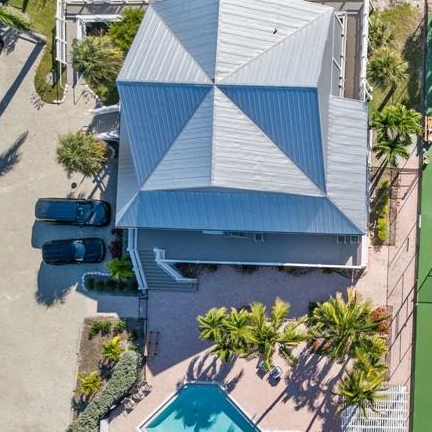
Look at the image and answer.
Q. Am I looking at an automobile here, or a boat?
automobile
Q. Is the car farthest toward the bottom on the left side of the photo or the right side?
left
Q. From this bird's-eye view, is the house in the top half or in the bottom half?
top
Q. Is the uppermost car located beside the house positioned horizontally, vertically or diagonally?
horizontally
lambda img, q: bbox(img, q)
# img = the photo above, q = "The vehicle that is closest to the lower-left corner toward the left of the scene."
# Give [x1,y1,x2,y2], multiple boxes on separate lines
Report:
[42,235,111,268]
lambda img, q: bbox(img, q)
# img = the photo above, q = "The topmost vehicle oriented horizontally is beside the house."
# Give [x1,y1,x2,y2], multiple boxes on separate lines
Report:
[33,195,115,230]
